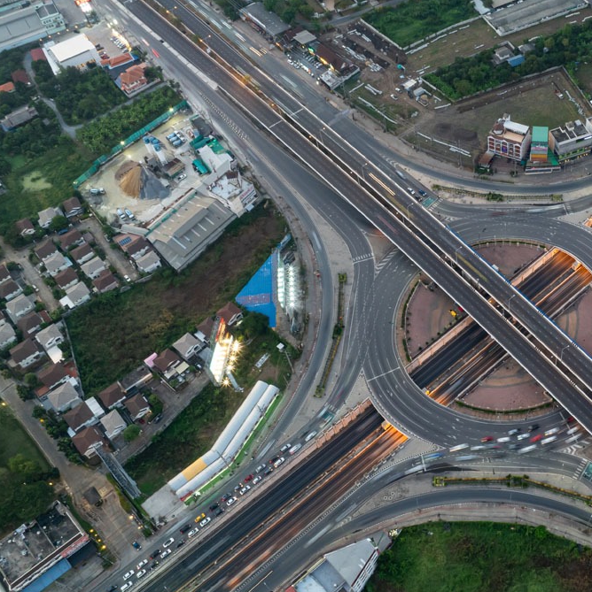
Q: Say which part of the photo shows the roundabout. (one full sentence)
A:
The roundabout sits in the right section of the image.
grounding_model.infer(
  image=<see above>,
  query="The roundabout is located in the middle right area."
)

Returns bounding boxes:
[356,210,592,461]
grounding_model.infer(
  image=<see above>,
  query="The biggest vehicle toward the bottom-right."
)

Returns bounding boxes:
[446,440,472,454]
